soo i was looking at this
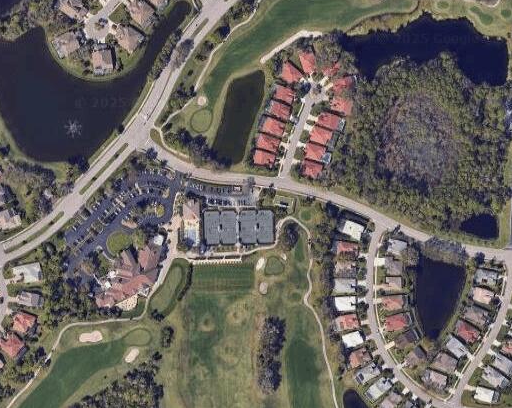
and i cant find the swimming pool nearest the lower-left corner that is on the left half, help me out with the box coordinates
[184,220,199,247]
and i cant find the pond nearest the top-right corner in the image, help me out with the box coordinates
[343,13,510,87]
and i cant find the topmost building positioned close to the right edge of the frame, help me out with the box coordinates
[473,266,498,285]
